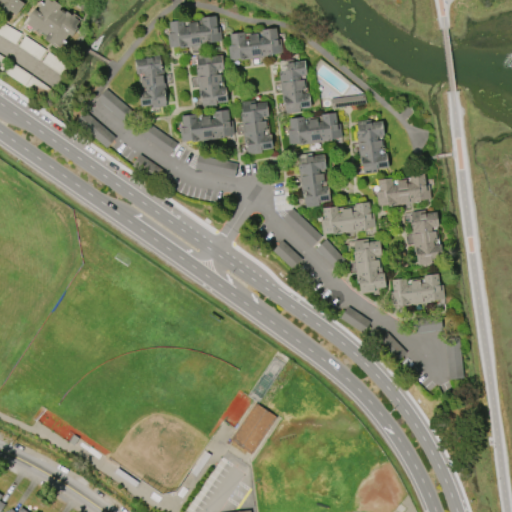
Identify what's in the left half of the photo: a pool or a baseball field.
baseball field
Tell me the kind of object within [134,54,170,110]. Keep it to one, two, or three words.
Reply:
building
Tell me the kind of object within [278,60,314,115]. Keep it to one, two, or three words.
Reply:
building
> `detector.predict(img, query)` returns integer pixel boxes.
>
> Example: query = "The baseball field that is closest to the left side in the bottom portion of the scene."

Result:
[2,212,284,492]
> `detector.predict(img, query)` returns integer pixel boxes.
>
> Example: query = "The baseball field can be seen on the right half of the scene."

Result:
[257,359,406,512]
